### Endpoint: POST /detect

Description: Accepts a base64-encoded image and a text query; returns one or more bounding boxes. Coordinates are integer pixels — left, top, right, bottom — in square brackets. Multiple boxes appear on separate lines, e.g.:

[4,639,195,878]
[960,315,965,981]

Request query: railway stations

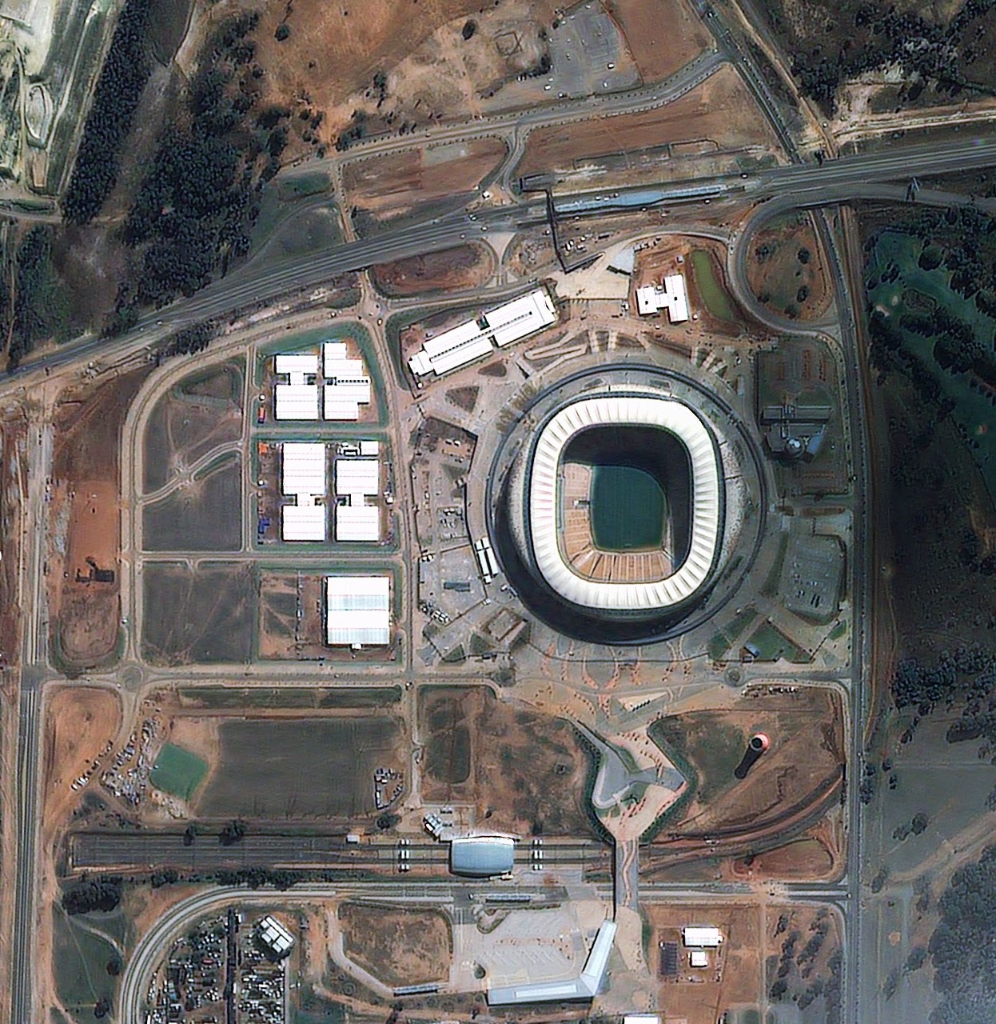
[451,832,514,878]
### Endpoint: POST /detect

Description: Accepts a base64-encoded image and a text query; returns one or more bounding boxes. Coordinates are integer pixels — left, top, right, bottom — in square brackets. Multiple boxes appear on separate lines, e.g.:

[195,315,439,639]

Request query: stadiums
[509,383,746,621]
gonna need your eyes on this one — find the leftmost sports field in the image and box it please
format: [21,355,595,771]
[204,720,402,813]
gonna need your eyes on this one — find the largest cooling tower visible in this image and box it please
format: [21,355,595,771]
[751,732,771,752]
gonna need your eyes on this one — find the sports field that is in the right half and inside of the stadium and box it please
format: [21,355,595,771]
[592,453,666,552]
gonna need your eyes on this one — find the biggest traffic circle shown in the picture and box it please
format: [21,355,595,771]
[117,662,147,692]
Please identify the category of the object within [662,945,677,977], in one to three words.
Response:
solar array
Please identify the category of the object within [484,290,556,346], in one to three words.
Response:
building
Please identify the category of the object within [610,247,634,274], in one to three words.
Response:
building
